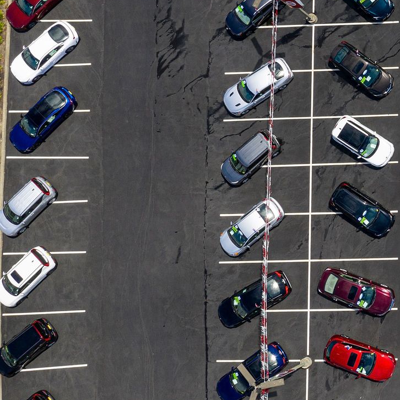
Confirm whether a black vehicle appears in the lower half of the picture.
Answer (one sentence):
Yes, a black vehicle shows up in the lower half of the picture.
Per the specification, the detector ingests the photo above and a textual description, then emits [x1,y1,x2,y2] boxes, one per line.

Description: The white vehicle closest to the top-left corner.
[9,23,79,85]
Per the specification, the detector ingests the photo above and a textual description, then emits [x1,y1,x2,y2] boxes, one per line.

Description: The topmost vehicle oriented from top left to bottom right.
[329,40,393,98]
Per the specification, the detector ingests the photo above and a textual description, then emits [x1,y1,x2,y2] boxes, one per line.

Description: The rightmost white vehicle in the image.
[332,115,393,166]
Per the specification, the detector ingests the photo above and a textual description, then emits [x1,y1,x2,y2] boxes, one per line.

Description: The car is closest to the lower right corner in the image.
[324,333,396,382]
